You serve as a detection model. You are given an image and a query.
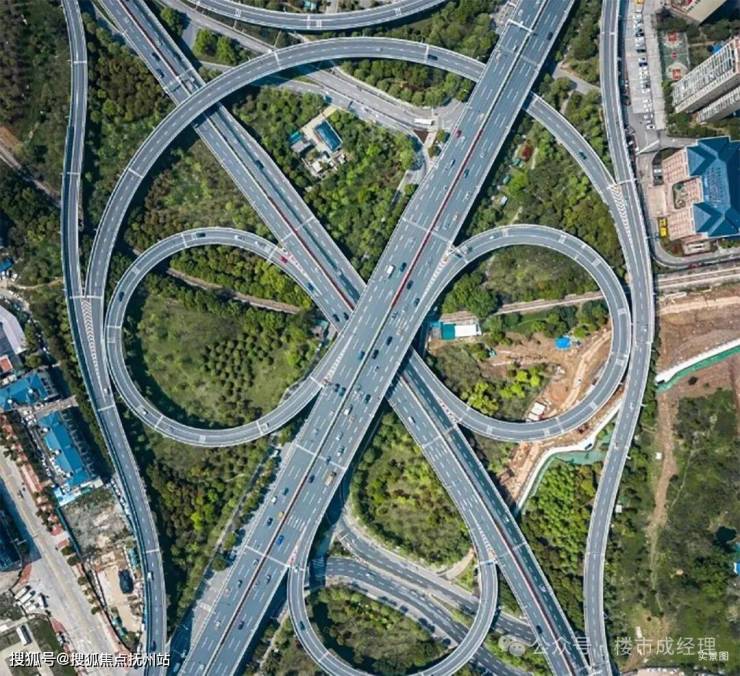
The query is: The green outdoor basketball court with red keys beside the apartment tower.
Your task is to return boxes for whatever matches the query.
[659,27,690,83]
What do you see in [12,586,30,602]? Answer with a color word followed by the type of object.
white vehicle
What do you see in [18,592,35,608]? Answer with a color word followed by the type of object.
white vehicle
